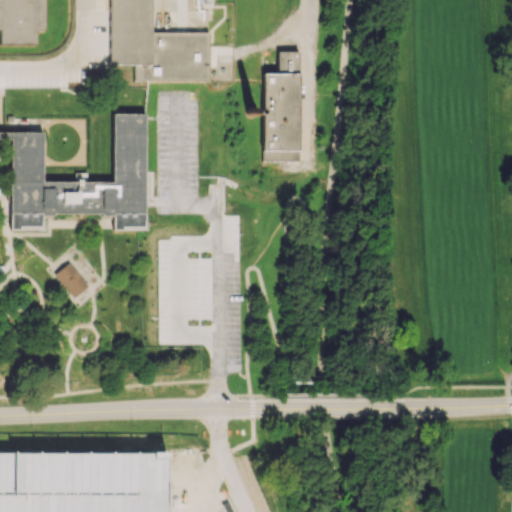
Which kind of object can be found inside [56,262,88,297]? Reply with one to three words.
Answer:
building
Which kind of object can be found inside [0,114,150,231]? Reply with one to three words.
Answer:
building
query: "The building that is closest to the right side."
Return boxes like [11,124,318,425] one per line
[263,52,301,163]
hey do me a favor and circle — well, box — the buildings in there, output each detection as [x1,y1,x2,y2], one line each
[56,262,88,297]
[110,0,210,82]
[0,114,150,231]
[0,450,172,512]
[263,52,301,163]
[0,0,48,46]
